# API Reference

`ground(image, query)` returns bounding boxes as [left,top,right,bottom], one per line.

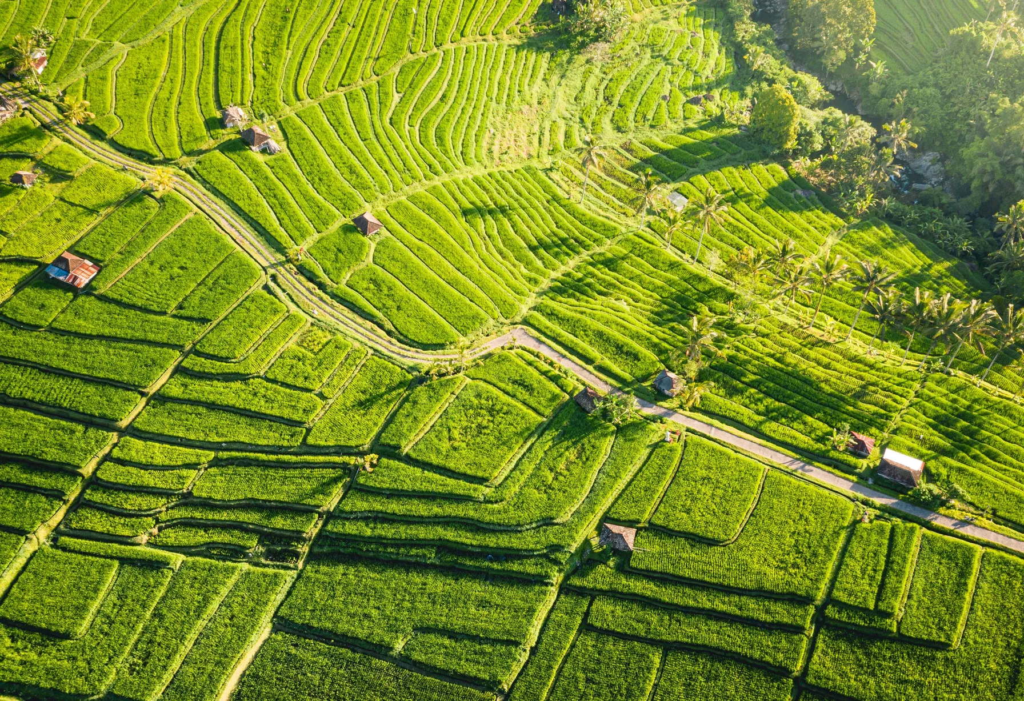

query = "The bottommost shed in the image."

[593,524,648,556]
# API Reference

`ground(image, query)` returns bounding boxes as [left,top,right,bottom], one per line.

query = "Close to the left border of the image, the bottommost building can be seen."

[45,253,100,294]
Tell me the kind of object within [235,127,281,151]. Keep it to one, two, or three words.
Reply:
shed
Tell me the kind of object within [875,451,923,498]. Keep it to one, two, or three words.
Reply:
house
